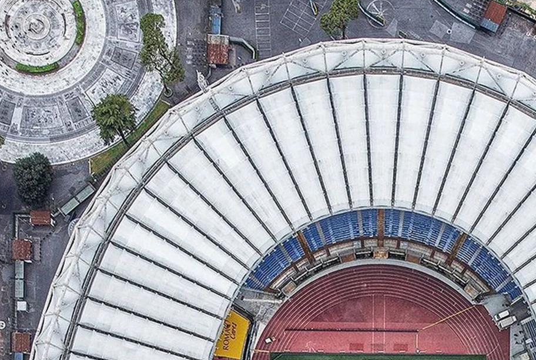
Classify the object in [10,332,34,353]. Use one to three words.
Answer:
building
